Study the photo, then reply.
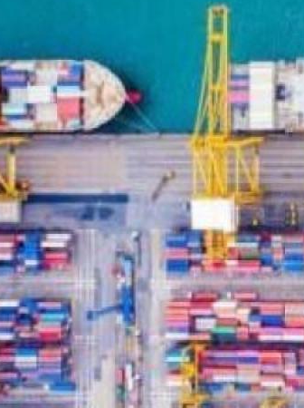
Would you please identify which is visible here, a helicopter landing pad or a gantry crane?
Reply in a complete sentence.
Looking from above, you can make out a gantry crane.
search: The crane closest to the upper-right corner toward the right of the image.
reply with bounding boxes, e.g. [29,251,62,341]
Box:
[190,6,267,261]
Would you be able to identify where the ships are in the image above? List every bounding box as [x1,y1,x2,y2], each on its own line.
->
[229,62,304,129]
[0,61,140,129]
